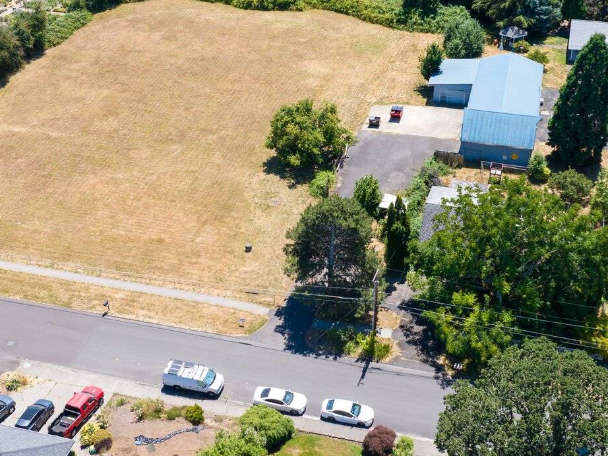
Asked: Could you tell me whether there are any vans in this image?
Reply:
Yes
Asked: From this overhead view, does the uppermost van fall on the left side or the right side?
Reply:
left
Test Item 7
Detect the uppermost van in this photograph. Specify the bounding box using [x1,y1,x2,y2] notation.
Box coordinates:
[161,358,224,397]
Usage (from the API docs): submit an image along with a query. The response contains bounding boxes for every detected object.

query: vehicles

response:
[50,388,101,440]
[13,394,57,433]
[0,392,15,417]
[252,387,307,415]
[161,358,224,397]
[319,399,375,428]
